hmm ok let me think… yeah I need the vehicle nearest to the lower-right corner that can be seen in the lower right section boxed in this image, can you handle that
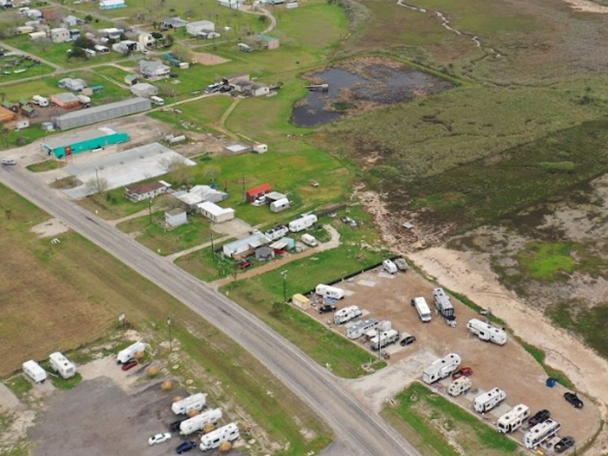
[553,435,576,454]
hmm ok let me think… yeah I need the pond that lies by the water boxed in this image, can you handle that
[291,57,450,127]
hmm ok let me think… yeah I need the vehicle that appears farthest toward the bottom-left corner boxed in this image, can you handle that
[23,357,46,382]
